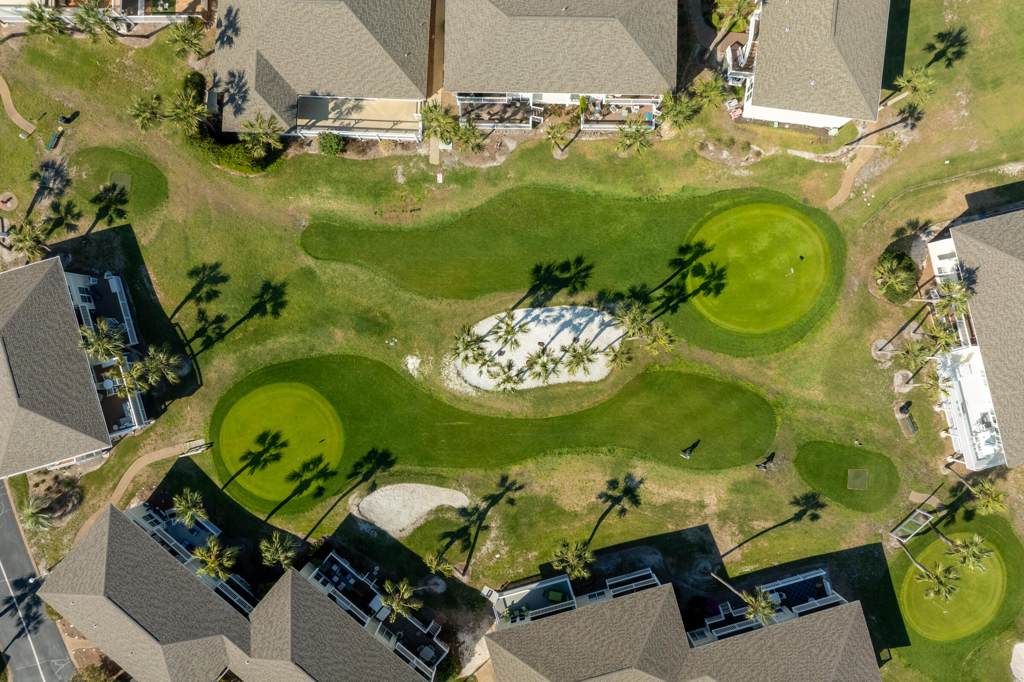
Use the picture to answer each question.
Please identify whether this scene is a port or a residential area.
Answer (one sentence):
It's a residential area.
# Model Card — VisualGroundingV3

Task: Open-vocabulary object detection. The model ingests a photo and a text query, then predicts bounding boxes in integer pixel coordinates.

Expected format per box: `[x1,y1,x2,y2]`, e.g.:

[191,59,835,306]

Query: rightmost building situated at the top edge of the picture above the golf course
[725,0,894,131]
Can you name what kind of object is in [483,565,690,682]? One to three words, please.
house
